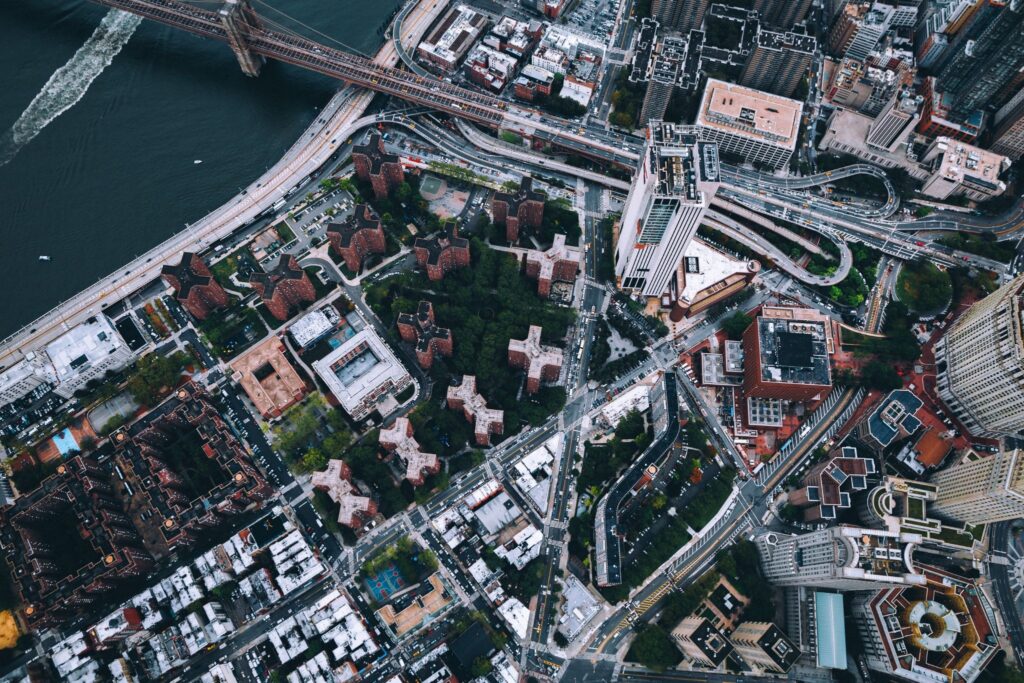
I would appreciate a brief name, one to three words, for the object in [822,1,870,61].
building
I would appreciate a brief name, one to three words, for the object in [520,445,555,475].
building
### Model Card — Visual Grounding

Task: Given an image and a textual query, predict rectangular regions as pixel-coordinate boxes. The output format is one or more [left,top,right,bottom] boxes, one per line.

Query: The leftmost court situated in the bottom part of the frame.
[52,427,80,458]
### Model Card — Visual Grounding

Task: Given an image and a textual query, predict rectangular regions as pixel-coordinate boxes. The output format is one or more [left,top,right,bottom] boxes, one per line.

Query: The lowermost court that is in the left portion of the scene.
[366,559,407,602]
